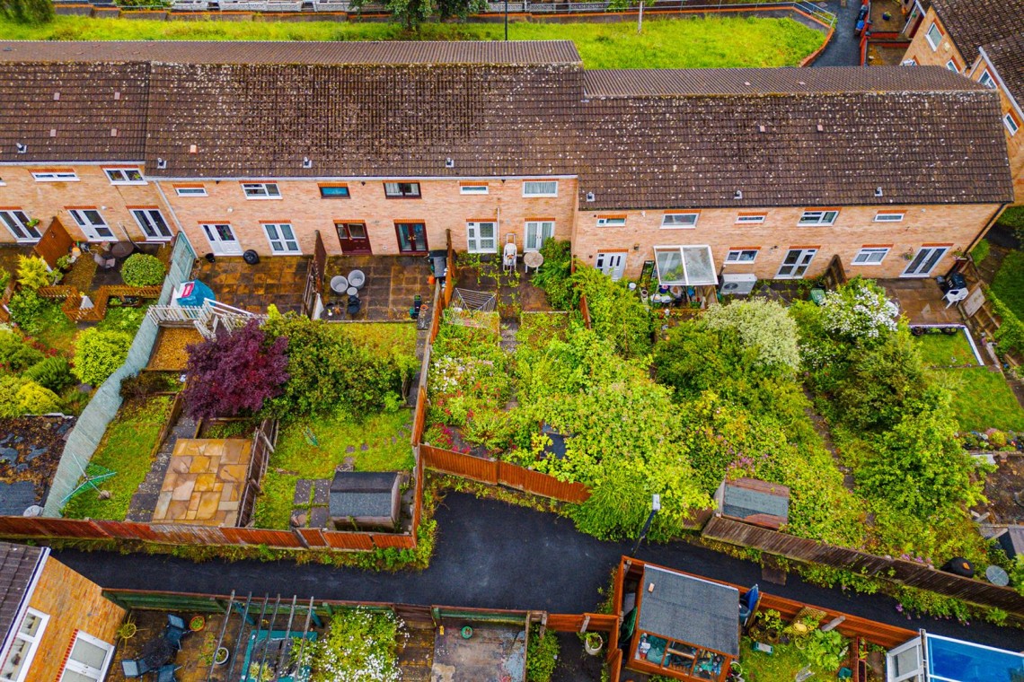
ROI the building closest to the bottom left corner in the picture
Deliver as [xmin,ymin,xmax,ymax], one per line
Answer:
[0,538,127,682]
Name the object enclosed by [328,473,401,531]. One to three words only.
shed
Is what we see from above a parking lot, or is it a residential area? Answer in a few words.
residential area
